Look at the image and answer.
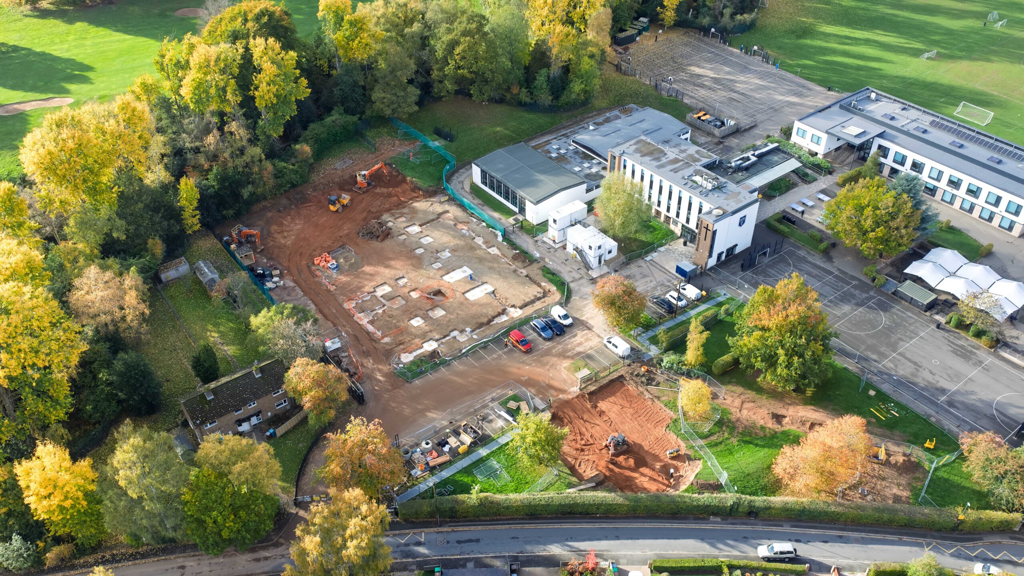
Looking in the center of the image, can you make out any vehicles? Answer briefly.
Yes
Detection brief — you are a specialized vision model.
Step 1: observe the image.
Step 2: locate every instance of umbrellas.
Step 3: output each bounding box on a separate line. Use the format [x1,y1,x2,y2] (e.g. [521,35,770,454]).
[933,275,983,306]
[901,259,951,290]
[987,278,1024,321]
[954,262,1002,292]
[923,247,970,275]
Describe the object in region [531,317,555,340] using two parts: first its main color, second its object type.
blue car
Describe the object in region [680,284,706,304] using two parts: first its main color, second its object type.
white vehicle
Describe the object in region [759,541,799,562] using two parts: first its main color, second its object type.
white car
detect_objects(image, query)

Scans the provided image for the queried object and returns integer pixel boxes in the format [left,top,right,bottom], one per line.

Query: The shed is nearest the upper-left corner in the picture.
[155,255,192,286]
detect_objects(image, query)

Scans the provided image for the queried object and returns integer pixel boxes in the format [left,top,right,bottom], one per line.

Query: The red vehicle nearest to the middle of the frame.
[507,327,533,353]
